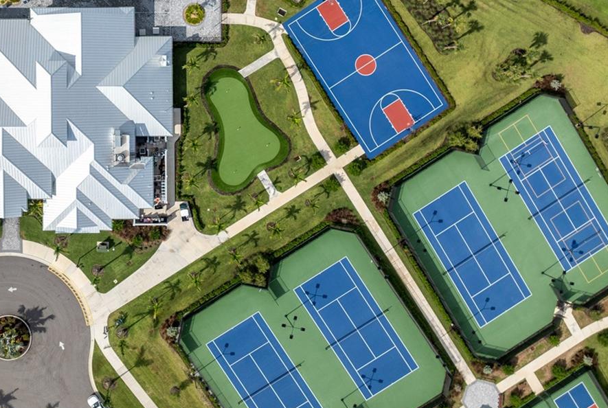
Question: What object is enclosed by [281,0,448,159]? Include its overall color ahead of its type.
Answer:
blue basketball court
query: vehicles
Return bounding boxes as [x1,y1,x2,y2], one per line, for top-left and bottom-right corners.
[180,202,189,220]
[87,391,106,408]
